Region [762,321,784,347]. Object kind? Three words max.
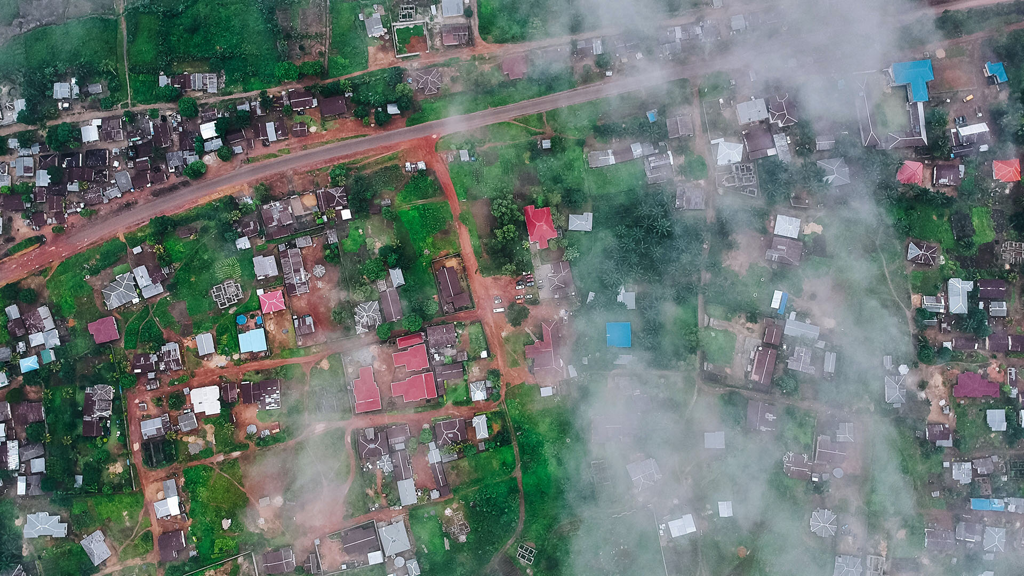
house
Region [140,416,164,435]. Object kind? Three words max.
house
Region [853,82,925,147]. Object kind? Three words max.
building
